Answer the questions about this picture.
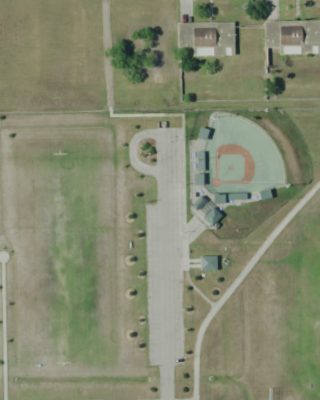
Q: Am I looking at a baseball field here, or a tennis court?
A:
baseball field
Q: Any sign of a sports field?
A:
Yes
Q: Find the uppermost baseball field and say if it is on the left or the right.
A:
right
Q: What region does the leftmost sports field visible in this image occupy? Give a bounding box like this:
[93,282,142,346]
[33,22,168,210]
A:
[18,142,106,371]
